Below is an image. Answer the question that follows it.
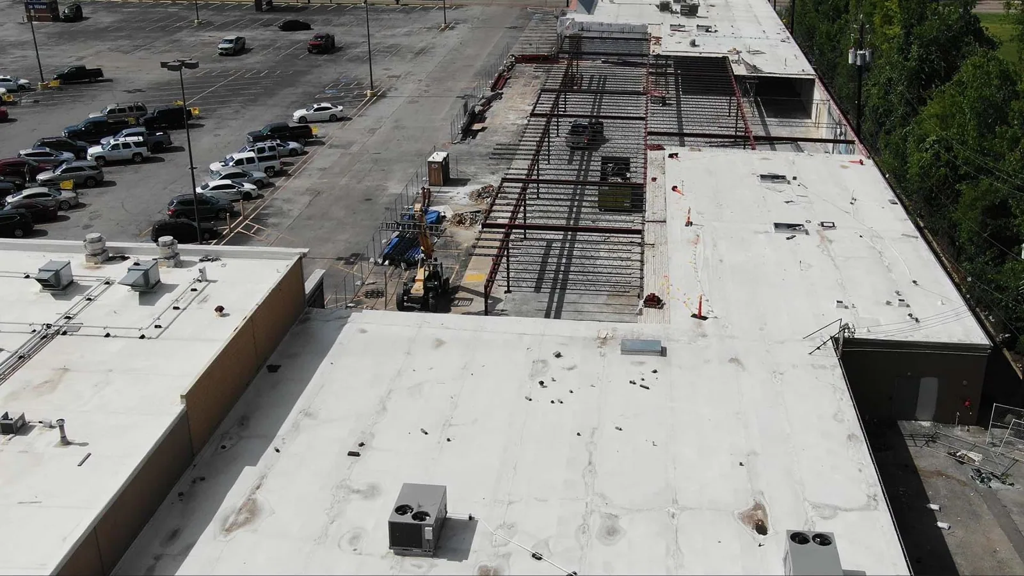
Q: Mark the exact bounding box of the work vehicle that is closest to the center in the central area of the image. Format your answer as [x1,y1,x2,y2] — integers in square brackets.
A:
[400,199,450,306]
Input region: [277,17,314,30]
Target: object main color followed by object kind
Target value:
black vehicle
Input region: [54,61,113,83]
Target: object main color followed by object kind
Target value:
black truck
